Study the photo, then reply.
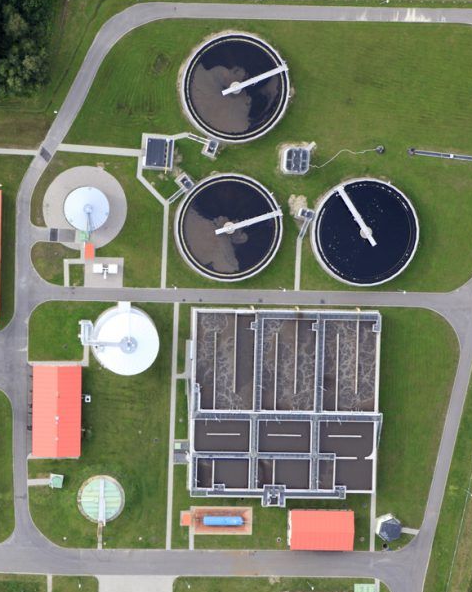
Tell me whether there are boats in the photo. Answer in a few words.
No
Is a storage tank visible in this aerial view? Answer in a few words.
Yes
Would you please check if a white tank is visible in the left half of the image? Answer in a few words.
Yes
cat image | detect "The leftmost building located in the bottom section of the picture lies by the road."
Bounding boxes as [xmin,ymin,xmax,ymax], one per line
[29,366,85,458]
